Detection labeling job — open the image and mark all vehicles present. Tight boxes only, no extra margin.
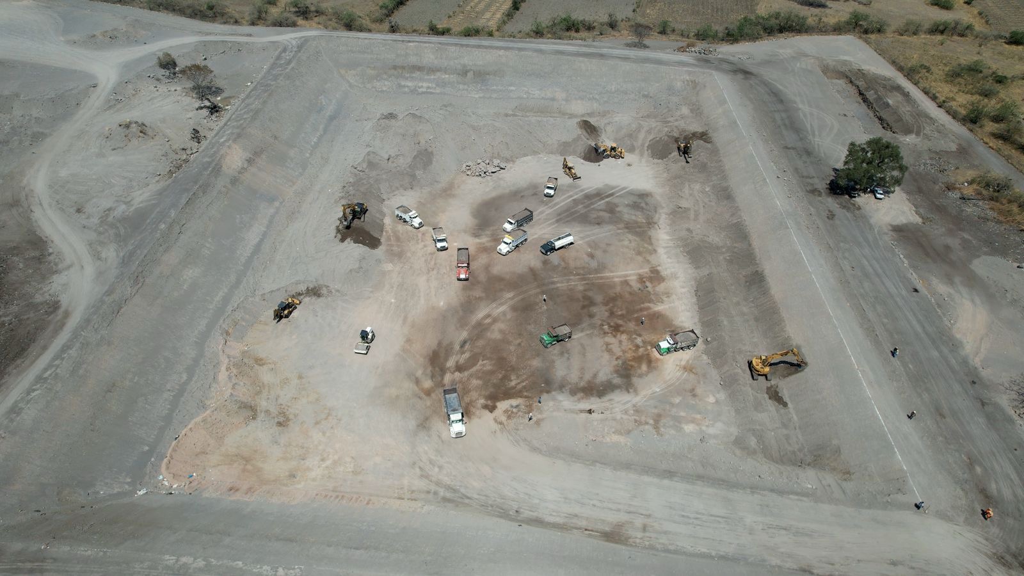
[443,385,465,438]
[751,348,807,382]
[598,143,627,158]
[497,226,528,254]
[502,206,535,232]
[352,332,376,355]
[544,175,559,196]
[873,185,886,197]
[538,319,574,347]
[431,225,448,250]
[540,230,575,255]
[677,139,691,158]
[336,204,370,225]
[656,325,702,355]
[564,155,581,180]
[271,295,306,319]
[455,247,470,279]
[393,201,423,227]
